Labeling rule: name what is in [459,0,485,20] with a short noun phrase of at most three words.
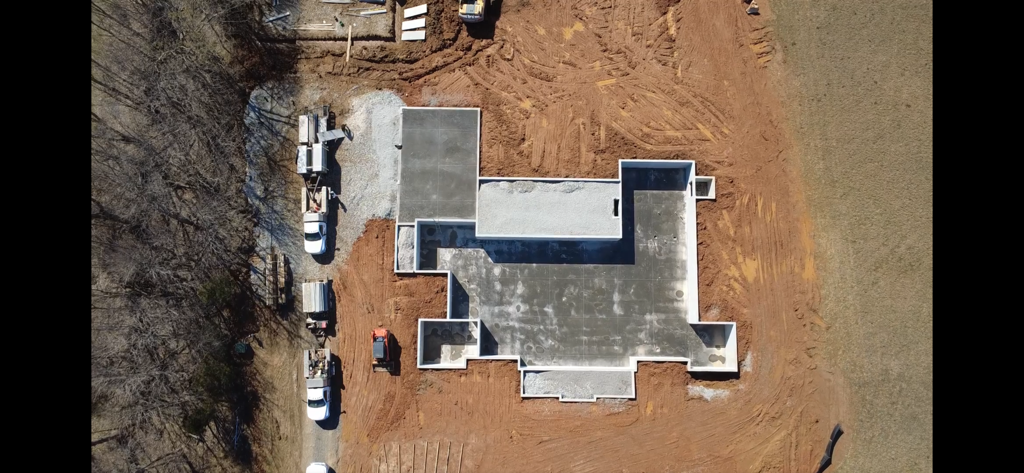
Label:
work vehicle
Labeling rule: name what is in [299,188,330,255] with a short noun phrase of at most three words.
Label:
truck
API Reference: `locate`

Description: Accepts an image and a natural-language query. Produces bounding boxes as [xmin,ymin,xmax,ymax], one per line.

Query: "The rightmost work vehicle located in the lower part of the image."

[371,329,394,373]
